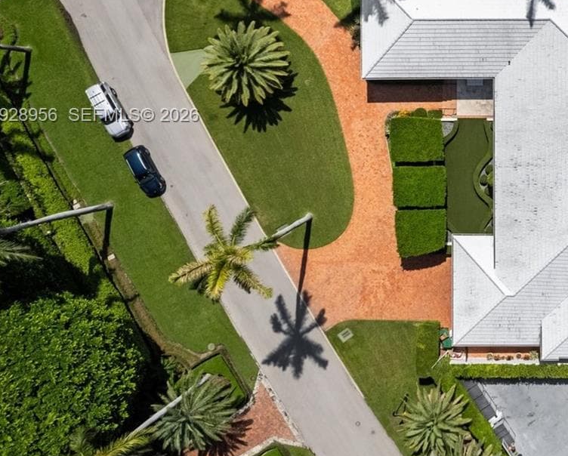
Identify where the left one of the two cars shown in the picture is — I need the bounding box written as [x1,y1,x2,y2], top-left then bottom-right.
[79,79,130,138]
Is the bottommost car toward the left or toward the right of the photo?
left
